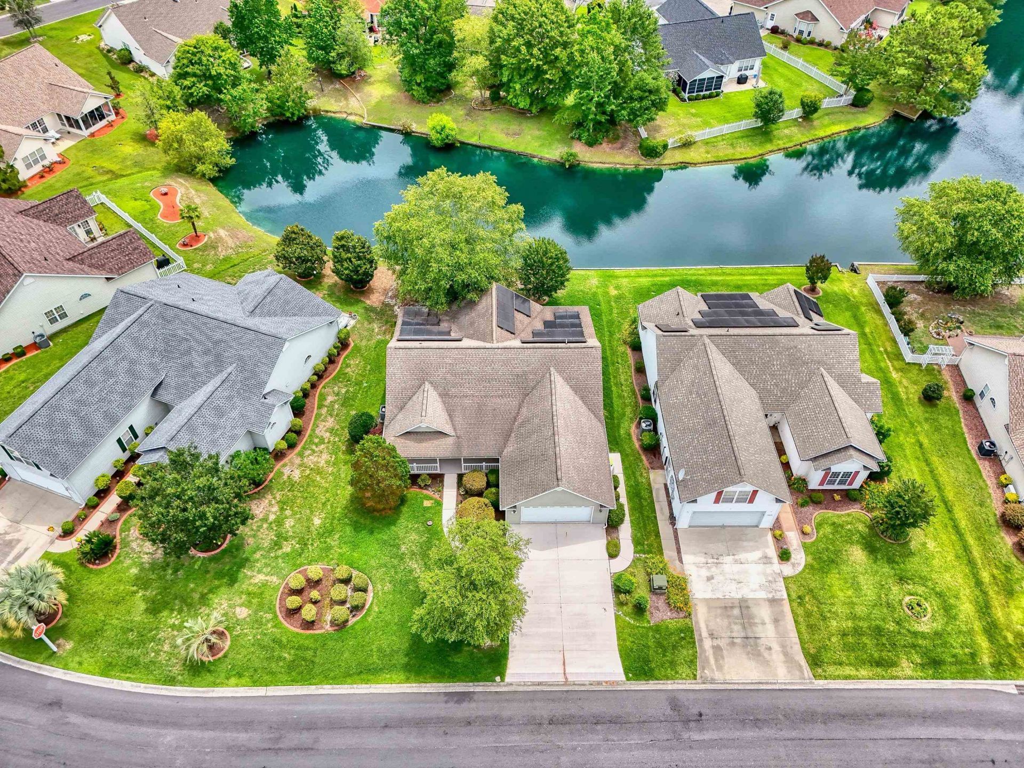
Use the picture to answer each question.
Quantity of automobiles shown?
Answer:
0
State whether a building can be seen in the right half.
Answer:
Yes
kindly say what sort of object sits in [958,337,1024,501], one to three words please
house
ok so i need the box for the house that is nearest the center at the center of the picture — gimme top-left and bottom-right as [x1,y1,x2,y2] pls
[382,282,617,529]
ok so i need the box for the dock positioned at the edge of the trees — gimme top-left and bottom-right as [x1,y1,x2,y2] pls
[892,103,924,123]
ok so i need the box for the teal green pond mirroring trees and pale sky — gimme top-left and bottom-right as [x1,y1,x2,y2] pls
[214,0,1024,271]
